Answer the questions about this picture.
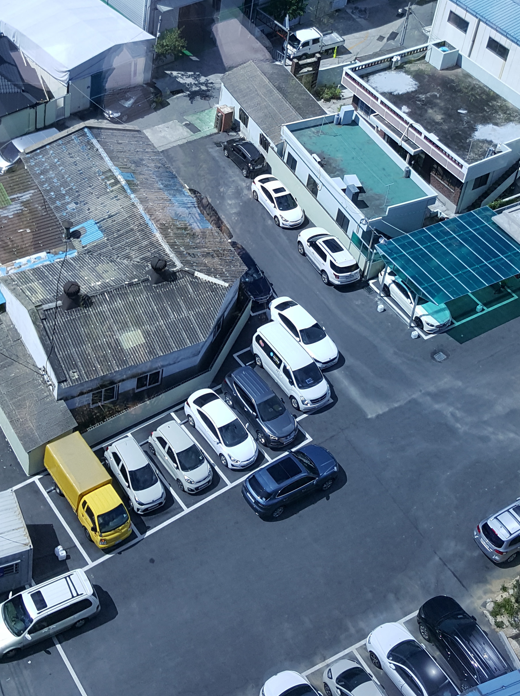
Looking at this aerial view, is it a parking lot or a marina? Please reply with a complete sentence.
The area seen from above is a parking lot.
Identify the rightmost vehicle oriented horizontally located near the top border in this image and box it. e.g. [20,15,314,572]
[282,22,348,57]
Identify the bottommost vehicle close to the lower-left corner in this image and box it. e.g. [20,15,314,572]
[0,572,107,666]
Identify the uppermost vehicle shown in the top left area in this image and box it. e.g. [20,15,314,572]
[105,80,172,120]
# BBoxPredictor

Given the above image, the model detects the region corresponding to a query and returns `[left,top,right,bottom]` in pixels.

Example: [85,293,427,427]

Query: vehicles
[243,315,326,410]
[216,139,269,179]
[282,22,348,57]
[240,451,345,522]
[320,652,392,696]
[0,572,107,666]
[216,366,298,452]
[177,393,254,477]
[223,232,275,303]
[470,500,520,565]
[292,229,365,292]
[0,118,61,172]
[364,623,461,696]
[99,438,162,516]
[269,298,338,371]
[248,173,305,232]
[46,419,127,538]
[105,80,172,120]
[142,422,209,497]
[254,662,320,696]
[414,592,520,688]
